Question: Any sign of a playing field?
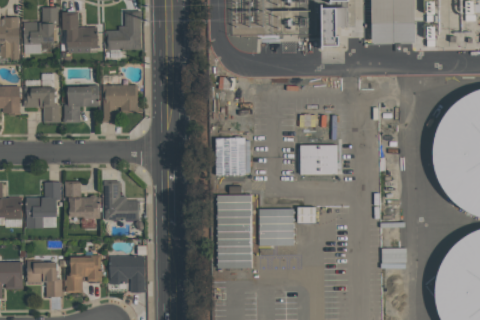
No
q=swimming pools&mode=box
[0,67,20,84]
[48,240,63,249]
[112,242,134,254]
[122,66,143,84]
[68,68,92,80]
[112,224,131,236]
